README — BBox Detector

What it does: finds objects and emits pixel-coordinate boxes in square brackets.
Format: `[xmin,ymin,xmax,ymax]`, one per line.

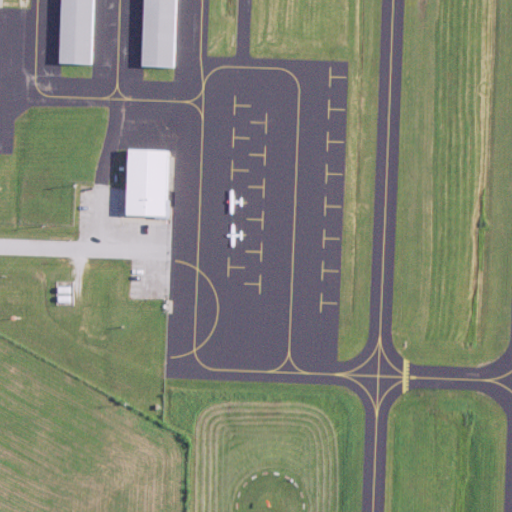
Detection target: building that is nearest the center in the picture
[125,148,172,220]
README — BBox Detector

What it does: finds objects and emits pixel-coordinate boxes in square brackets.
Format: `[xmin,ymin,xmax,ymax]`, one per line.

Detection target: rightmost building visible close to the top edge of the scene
[141,0,179,70]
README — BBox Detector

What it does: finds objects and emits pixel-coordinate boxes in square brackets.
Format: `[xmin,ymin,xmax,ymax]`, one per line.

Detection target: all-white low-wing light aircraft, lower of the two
[228,224,244,248]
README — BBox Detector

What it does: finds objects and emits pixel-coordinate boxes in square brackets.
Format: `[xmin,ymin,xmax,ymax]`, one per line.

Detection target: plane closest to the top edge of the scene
[228,190,244,216]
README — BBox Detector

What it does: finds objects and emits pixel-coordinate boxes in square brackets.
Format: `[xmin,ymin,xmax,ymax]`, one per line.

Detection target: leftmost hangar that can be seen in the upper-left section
[58,0,96,66]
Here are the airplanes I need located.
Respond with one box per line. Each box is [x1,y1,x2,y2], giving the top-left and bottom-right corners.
[228,190,244,216]
[228,224,244,248]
